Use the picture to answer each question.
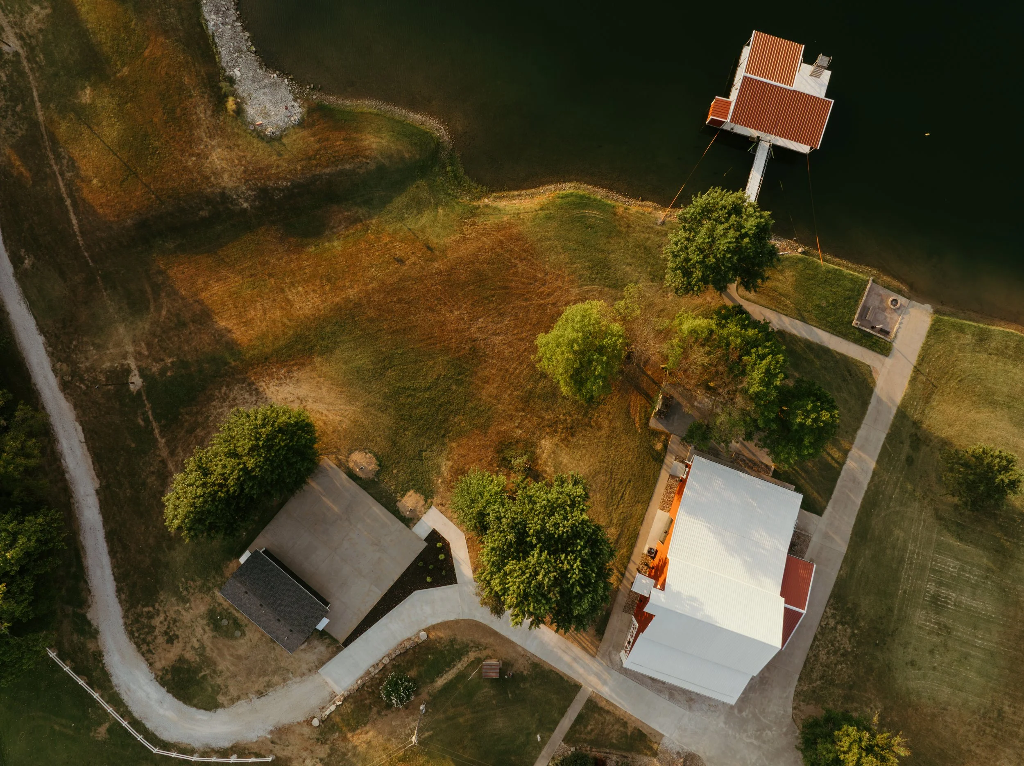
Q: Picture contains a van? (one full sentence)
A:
No, there isn't any van down there.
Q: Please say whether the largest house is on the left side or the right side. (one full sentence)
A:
You can find the largest house on the right side of the picture.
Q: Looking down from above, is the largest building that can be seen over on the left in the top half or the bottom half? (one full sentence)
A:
Seen from above, the largest building that can be seen over on the left lies in the bottom half of the view.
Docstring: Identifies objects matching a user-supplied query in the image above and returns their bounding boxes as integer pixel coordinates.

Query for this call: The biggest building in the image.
[618,455,817,706]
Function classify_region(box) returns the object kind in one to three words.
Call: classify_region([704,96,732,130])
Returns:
shed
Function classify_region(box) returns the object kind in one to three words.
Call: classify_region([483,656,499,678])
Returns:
building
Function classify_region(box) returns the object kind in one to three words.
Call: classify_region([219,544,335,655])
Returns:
building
